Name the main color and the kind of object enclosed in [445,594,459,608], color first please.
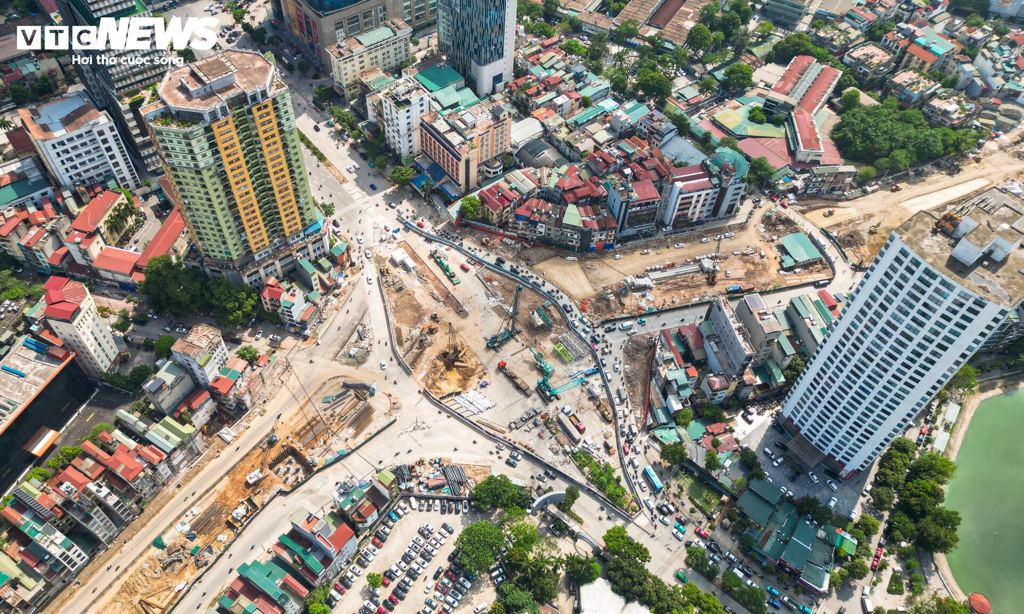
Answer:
white car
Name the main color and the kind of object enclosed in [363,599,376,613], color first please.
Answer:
white vehicle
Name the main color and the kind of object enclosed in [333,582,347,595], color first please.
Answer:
red vehicle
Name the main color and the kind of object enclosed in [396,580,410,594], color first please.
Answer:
gray car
